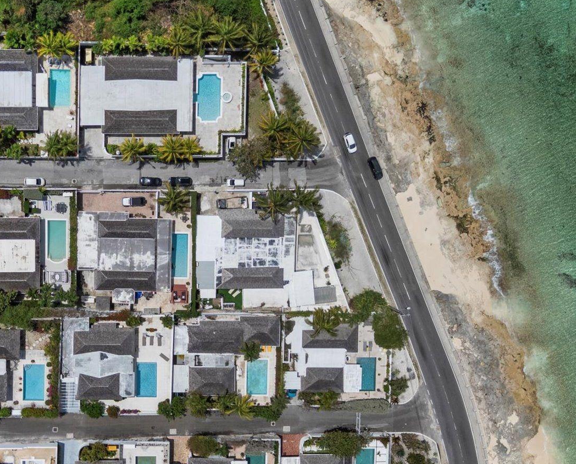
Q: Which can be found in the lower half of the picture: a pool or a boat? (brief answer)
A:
pool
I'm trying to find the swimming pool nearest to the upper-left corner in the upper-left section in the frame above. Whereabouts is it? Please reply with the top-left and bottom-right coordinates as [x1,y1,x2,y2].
[47,67,72,108]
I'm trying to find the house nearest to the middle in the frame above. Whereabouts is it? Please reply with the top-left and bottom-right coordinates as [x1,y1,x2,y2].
[195,209,315,309]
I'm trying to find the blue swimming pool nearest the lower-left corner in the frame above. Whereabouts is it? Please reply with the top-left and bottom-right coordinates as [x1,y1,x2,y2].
[22,363,46,402]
